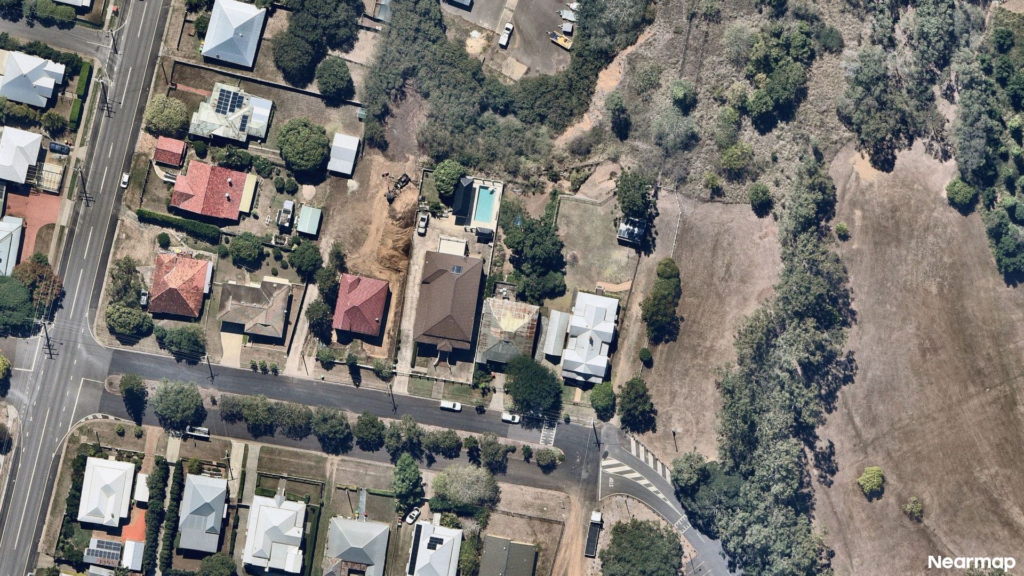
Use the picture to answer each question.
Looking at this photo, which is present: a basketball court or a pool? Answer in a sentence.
There is a pool in the scene.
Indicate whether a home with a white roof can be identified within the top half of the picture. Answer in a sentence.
Yes, the scene does show a home with a white roof within the top half of the picture.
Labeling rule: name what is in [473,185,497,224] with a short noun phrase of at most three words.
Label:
swimming pool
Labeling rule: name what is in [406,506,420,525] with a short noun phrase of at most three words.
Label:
car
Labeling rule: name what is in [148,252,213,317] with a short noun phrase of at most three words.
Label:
house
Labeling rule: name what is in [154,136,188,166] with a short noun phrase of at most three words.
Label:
building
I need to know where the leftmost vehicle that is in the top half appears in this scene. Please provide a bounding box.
[48,142,71,154]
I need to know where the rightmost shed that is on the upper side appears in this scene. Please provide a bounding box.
[617,216,648,244]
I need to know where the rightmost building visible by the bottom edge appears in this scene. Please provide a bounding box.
[478,534,536,576]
